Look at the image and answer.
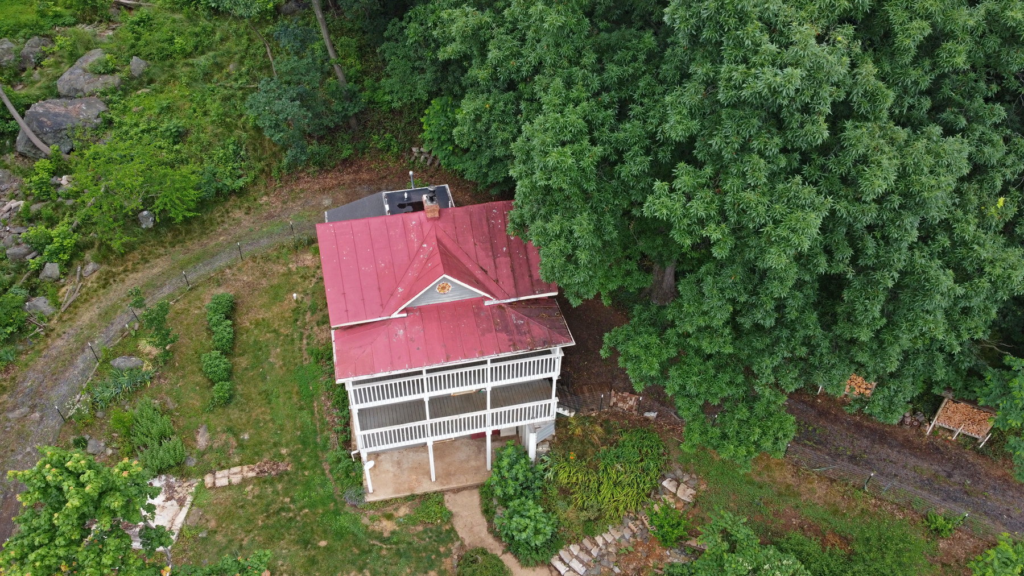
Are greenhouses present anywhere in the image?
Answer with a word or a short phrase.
No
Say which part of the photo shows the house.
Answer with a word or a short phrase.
center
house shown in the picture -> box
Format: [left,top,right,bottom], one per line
[316,159,578,492]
